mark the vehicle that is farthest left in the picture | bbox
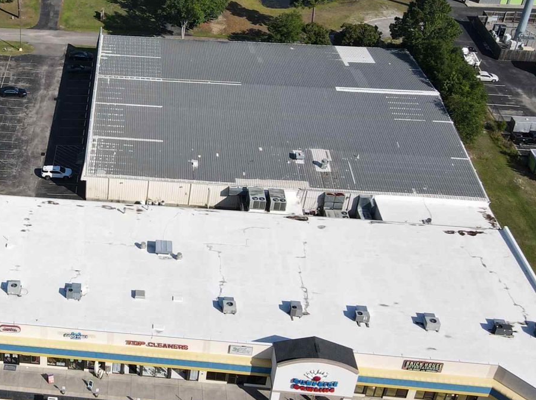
[0,85,25,97]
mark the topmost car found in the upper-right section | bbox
[482,72,502,84]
